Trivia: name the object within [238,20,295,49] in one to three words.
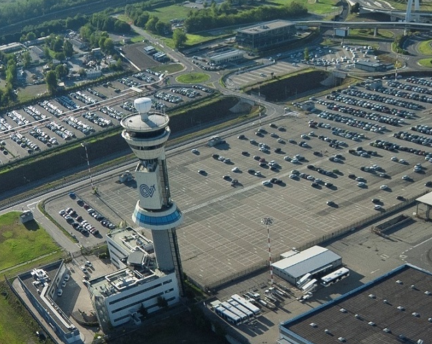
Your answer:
building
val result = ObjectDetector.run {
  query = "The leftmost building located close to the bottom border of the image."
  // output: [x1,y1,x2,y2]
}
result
[18,260,82,344]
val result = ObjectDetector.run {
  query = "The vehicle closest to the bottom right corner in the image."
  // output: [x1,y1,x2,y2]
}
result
[320,265,349,284]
